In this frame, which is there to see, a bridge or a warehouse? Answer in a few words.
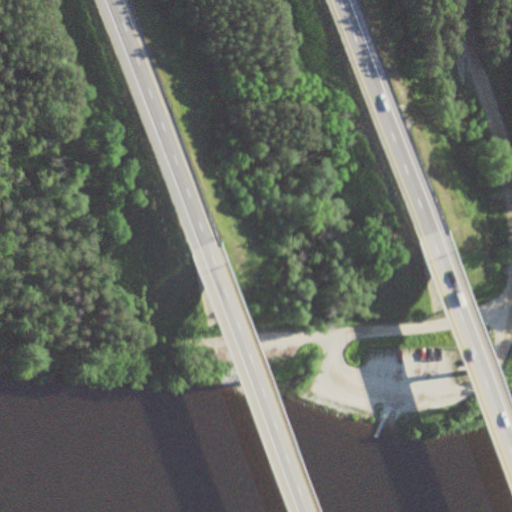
bridge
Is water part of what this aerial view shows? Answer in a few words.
Yes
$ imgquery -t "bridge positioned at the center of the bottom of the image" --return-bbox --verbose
[192,238,326,512]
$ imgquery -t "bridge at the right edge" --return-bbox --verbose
[417,226,512,498]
